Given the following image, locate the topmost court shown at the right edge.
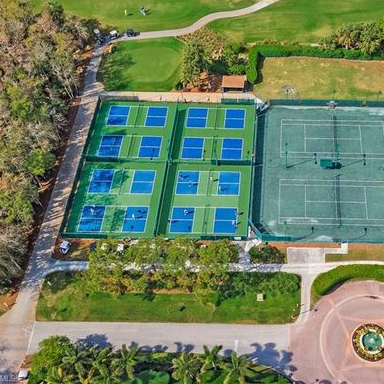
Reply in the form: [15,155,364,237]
[255,105,384,169]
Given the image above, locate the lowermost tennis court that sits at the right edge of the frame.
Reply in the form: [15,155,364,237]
[252,166,384,246]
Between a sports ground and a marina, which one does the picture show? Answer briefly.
sports ground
